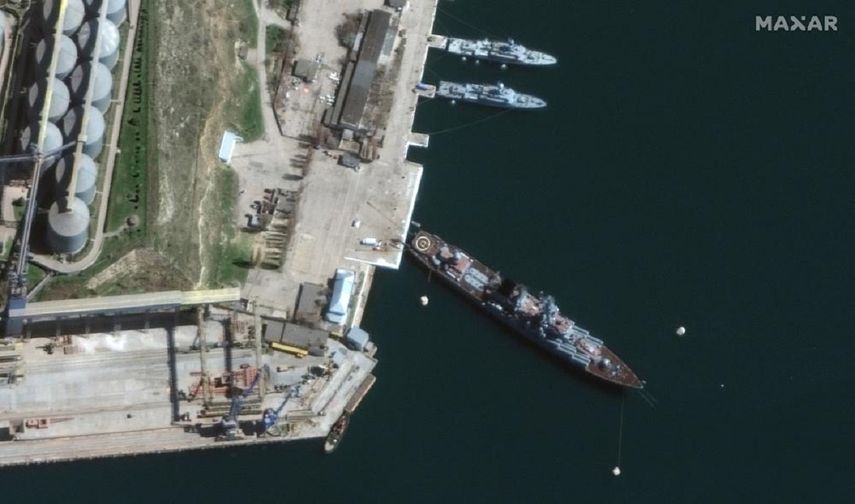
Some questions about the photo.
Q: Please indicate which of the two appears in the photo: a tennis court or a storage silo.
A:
storage silo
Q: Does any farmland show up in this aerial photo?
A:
No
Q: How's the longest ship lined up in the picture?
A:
on a diagonal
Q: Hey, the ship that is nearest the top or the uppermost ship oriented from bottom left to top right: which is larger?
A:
the ship that is nearest the top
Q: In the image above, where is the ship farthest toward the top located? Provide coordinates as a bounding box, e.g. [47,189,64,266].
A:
[448,38,557,65]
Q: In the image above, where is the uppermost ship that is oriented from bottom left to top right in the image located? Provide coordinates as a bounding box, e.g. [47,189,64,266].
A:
[346,373,377,413]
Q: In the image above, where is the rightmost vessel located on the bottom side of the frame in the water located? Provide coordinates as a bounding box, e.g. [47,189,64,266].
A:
[403,226,656,408]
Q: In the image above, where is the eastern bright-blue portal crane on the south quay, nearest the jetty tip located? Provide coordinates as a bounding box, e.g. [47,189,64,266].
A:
[259,388,298,439]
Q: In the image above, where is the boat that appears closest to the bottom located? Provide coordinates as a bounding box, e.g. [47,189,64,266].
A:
[329,410,352,455]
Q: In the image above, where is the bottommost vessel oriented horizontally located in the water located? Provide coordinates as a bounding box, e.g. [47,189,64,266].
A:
[438,81,547,108]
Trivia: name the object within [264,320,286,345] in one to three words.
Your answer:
shed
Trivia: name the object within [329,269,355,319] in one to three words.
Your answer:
building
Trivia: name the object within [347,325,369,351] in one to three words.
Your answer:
house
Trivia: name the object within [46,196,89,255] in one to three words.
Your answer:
silo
